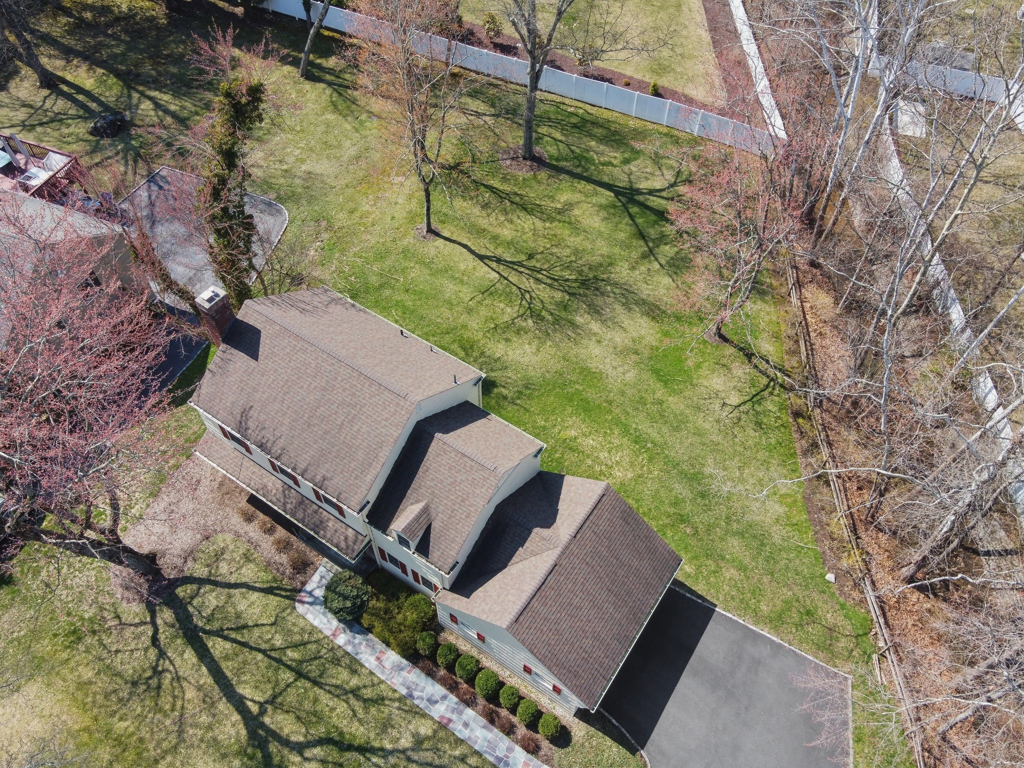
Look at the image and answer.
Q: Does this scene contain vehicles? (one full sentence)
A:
No, there isn't any vehicle down there.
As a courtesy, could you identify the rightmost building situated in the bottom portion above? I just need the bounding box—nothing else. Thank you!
[188,284,685,717]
